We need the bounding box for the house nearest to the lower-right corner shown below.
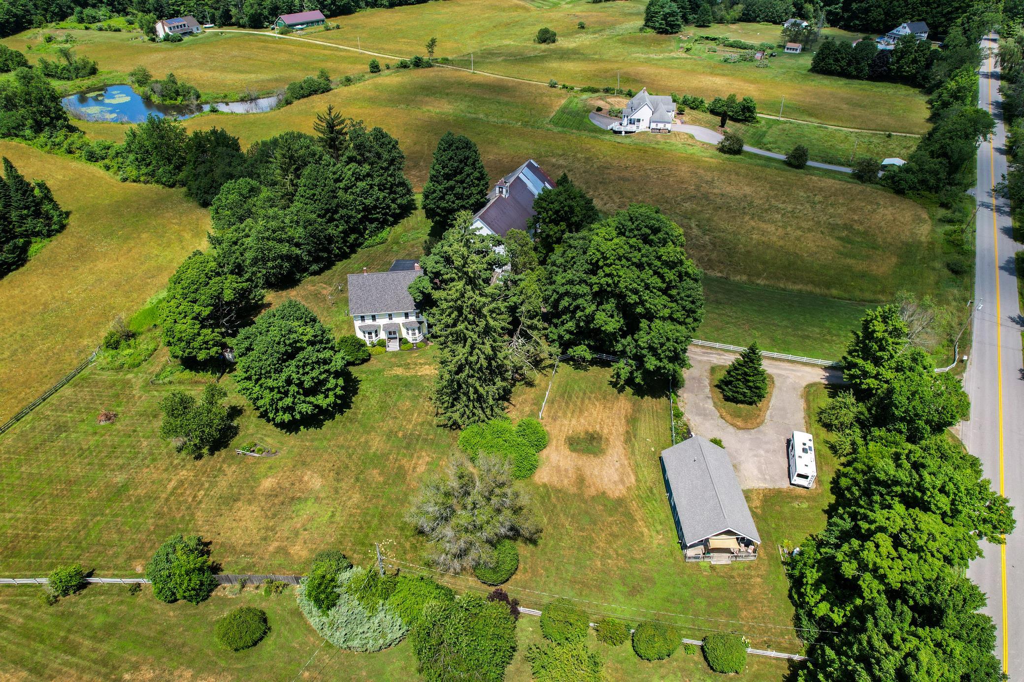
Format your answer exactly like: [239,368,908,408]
[659,436,761,569]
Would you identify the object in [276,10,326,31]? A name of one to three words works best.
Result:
barn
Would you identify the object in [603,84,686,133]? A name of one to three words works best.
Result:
house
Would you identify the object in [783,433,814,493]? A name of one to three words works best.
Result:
camper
